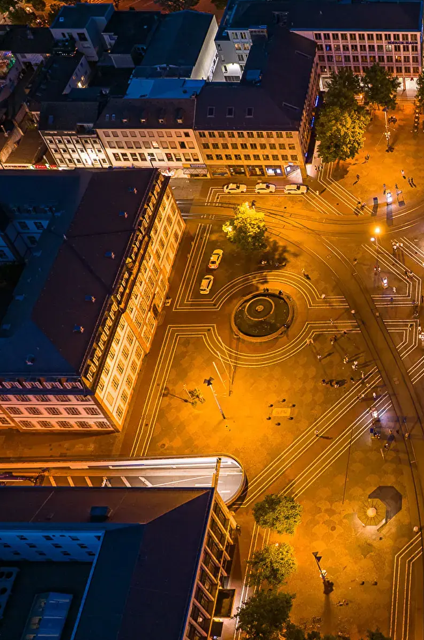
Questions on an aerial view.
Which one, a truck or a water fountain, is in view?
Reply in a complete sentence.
It is a water fountain that can be seen here.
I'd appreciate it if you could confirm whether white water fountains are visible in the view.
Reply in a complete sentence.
No, the picture doesn't show any white water fountain.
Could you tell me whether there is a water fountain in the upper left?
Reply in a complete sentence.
No, there is no water fountain in the upper left.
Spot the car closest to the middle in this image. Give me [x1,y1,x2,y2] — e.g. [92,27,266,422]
[198,274,216,296]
